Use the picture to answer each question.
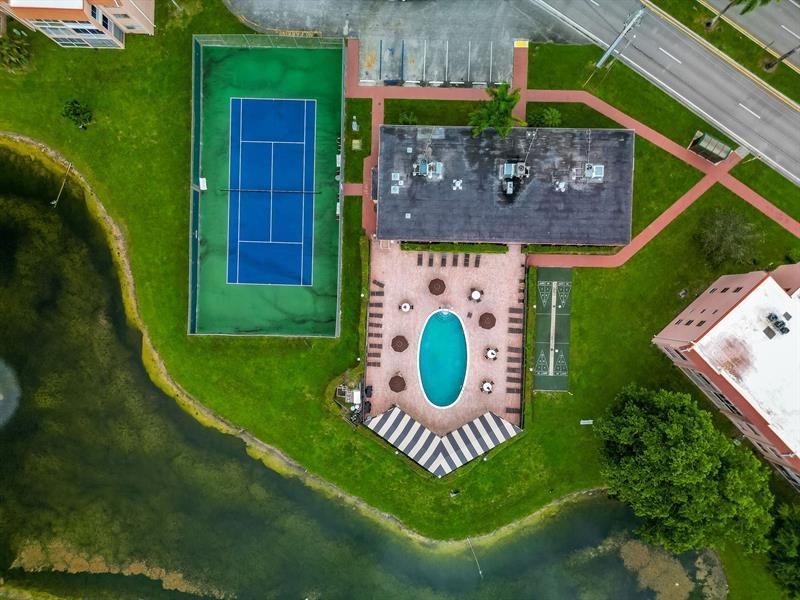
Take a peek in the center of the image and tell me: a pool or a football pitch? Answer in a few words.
pool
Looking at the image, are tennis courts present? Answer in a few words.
Yes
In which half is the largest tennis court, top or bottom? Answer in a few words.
top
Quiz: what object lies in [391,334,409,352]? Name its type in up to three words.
umbrella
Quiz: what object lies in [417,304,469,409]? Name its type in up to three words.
swimming pool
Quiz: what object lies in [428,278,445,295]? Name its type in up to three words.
umbrella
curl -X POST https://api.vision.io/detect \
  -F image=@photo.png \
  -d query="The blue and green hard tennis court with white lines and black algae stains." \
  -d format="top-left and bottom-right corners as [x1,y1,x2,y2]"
[197,47,345,336]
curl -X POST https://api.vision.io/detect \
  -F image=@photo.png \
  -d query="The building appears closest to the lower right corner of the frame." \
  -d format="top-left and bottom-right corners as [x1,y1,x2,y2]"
[652,262,800,492]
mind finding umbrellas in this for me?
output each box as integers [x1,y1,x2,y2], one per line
[391,334,409,352]
[389,375,406,391]
[428,278,445,295]
[478,312,495,329]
